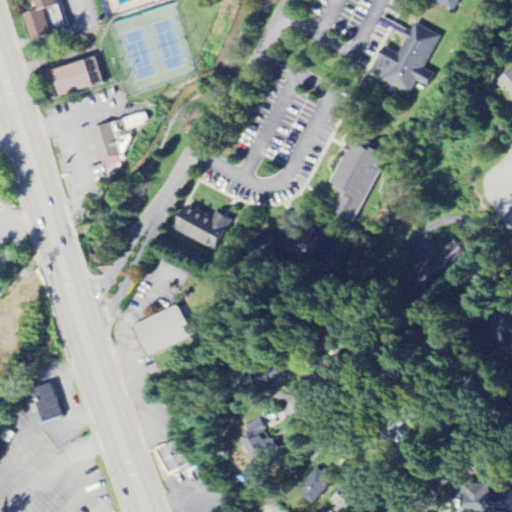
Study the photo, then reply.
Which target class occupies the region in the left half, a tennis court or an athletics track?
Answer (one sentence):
You can see a tennis court in the left half.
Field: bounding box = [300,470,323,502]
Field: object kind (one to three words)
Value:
house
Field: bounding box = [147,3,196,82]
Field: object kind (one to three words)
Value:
tennis court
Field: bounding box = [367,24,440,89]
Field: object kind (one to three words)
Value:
building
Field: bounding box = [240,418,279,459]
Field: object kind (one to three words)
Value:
house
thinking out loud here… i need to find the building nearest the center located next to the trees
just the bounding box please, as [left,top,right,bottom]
[174,206,233,250]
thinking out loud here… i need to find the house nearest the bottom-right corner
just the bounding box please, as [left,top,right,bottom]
[461,482,490,512]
